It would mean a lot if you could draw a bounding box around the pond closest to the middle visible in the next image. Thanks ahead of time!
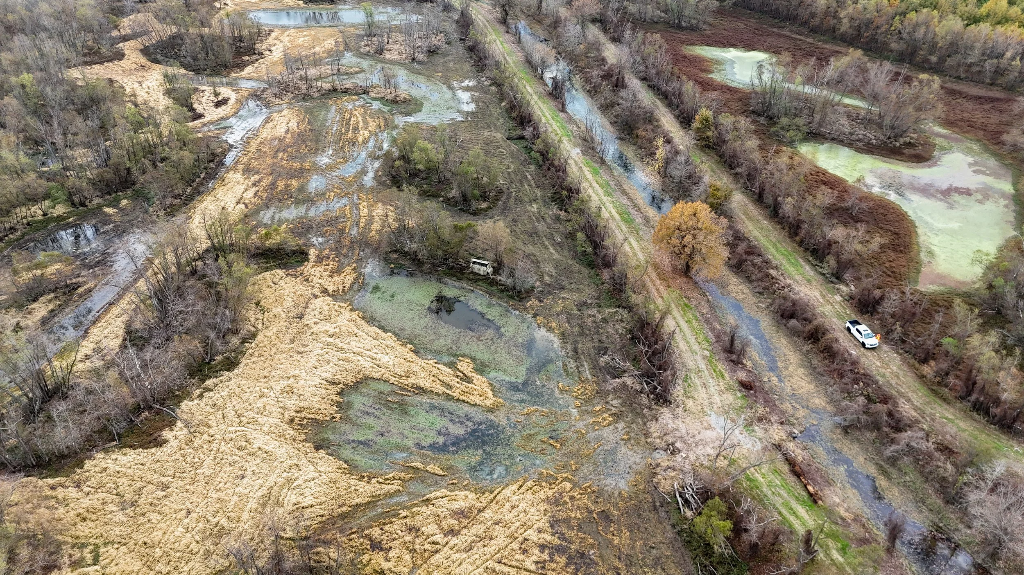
[304,253,590,544]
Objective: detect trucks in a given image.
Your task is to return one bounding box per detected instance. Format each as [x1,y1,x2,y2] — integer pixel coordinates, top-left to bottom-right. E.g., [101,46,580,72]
[848,314,885,347]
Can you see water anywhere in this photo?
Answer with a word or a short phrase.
Yes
